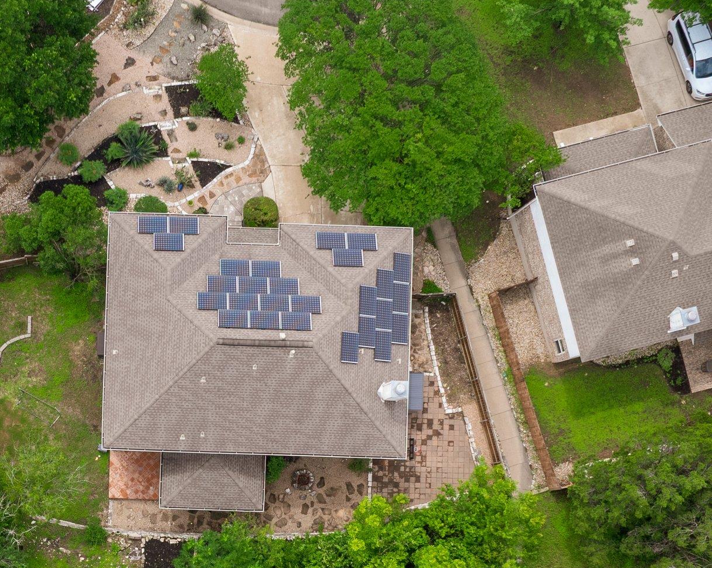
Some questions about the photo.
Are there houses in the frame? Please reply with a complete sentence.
Yes, this view includes a house.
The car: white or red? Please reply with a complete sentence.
The car is white.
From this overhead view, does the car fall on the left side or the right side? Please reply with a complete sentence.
It is on the right.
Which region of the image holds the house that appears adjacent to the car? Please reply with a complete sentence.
Look in the right portion of the view to spot the house that appears adjacent to the car.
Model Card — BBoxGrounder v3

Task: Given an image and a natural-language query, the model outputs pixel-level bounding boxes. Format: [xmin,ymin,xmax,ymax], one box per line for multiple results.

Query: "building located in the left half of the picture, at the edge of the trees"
[100,209,415,513]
